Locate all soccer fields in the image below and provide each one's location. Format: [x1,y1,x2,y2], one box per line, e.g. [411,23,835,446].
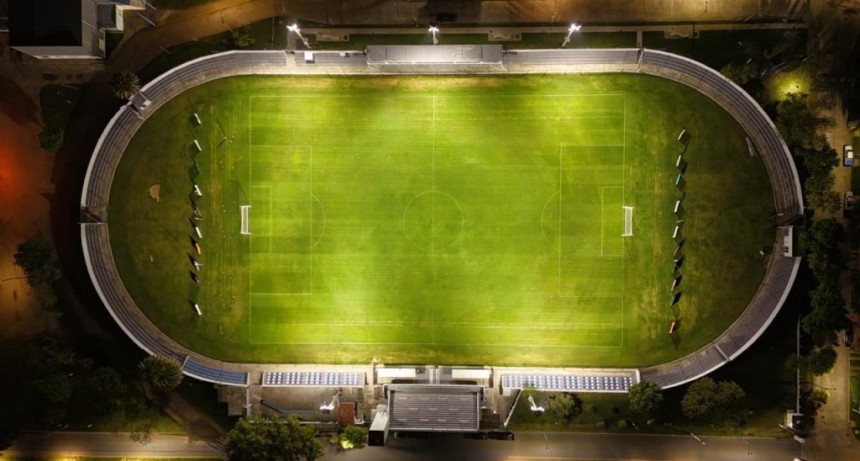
[249,94,624,348]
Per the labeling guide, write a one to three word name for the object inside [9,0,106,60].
building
